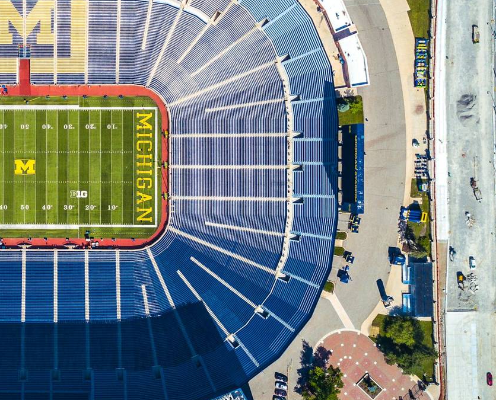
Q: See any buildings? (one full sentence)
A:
Yes, this view includes a building.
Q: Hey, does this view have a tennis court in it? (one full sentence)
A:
No, there appears to be no tennis court in this shot.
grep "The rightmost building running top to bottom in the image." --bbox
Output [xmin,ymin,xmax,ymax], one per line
[411,261,433,317]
